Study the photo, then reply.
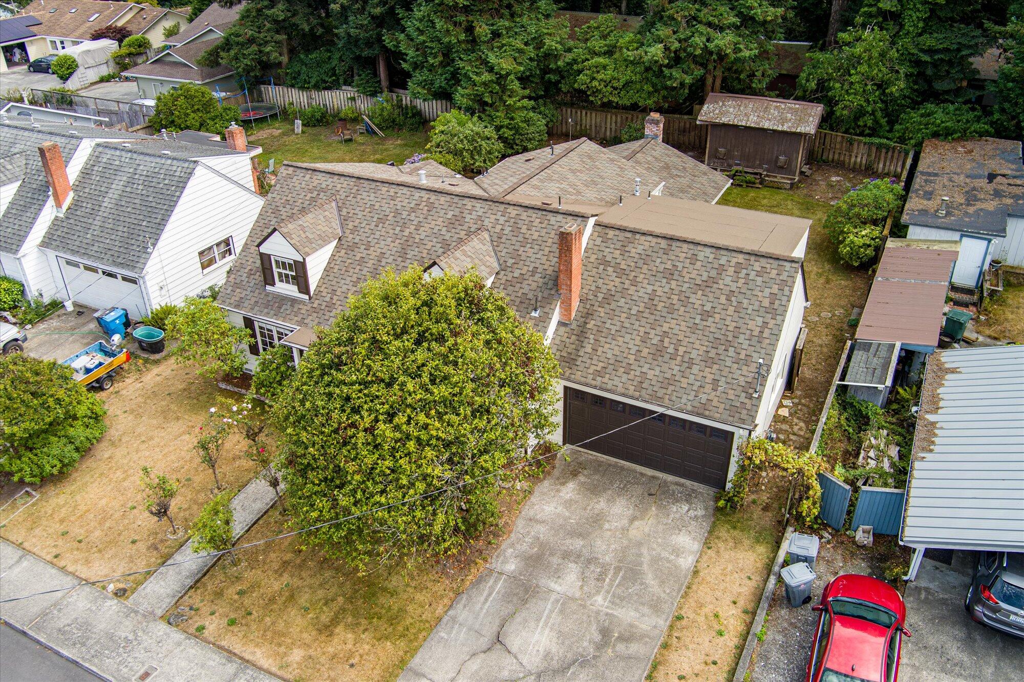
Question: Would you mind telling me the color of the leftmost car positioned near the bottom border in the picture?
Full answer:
The leftmost car positioned near the bottom border is red.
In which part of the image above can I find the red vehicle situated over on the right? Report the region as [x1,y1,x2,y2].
[800,567,919,682]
